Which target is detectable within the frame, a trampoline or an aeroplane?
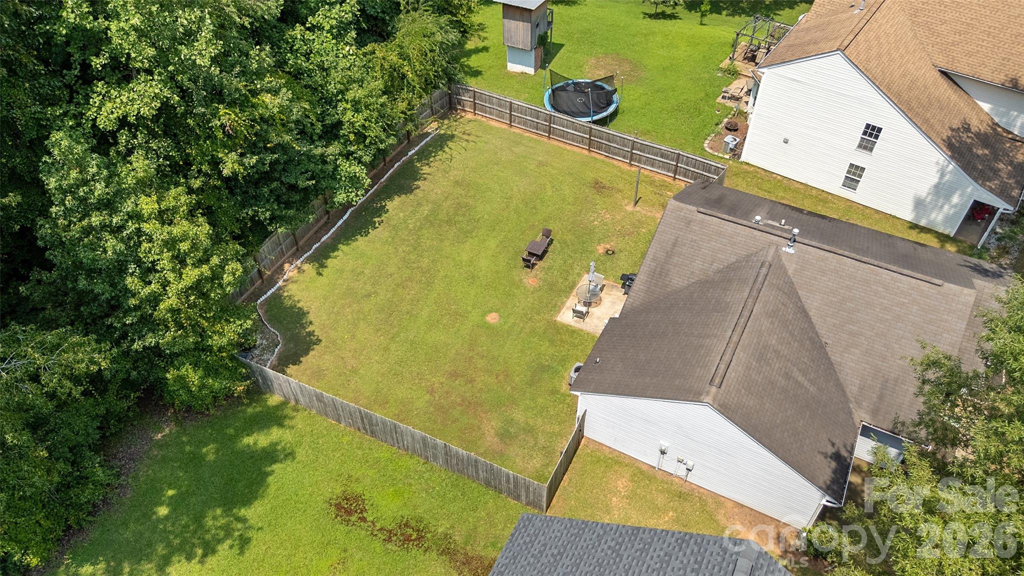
trampoline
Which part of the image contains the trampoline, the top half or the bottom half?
top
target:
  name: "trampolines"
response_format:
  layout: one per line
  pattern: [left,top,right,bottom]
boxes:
[541,66,628,129]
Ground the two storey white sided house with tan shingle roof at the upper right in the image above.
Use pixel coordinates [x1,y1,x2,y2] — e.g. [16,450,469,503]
[741,0,1024,250]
